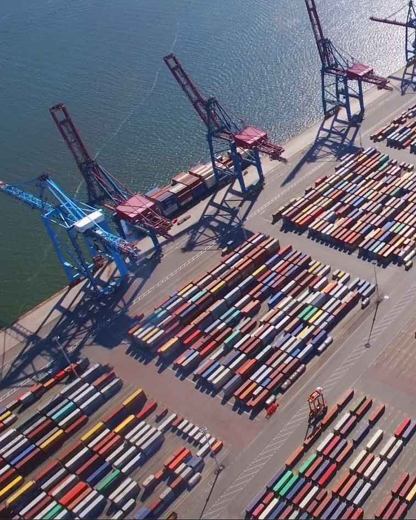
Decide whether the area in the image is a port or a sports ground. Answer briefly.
port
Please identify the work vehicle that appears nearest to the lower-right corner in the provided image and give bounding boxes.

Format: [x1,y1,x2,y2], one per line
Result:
[306,389,328,422]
